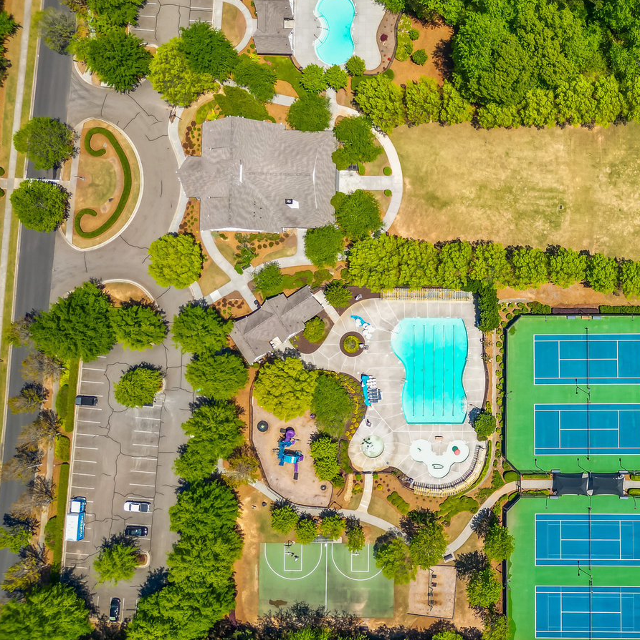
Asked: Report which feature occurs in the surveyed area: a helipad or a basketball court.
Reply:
basketball court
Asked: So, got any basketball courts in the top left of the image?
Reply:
No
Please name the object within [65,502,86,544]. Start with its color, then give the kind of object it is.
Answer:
white truck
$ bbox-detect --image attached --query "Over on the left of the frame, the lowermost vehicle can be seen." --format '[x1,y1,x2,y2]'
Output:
[110,597,122,621]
